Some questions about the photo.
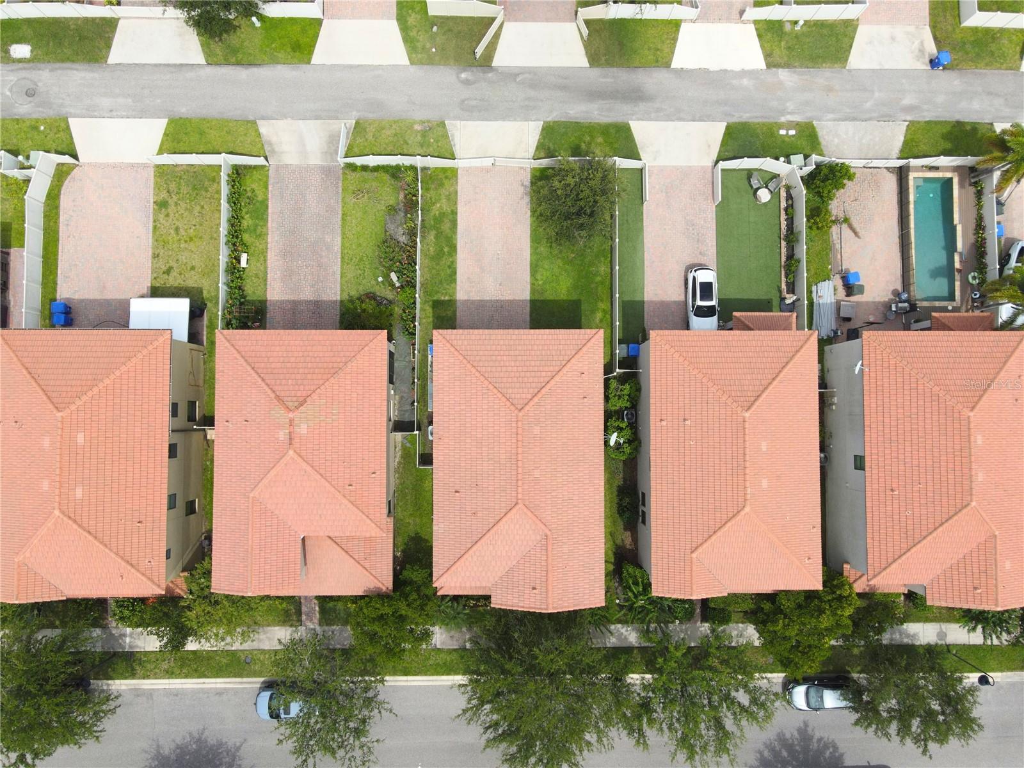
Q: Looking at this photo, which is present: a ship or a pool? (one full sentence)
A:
Of the two, only a pool appears.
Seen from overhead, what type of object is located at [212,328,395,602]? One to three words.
house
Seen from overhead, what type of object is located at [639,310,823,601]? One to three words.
house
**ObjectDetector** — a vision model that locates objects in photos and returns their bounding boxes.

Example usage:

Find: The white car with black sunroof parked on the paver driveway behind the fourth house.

[689,270,723,331]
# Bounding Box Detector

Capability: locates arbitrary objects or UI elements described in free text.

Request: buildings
[212,328,395,602]
[825,312,1024,614]
[0,327,213,605]
[431,327,606,614]
[639,310,823,601]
